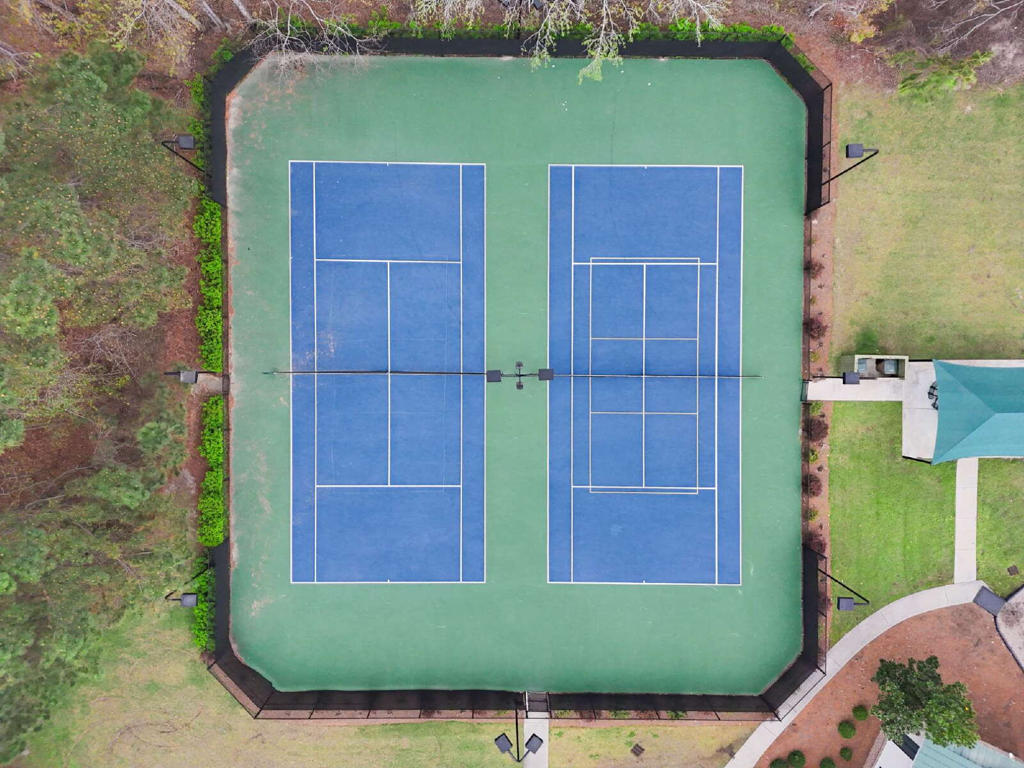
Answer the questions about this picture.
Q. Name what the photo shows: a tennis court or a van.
tennis court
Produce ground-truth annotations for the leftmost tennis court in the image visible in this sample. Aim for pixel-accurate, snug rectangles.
[228,57,520,692]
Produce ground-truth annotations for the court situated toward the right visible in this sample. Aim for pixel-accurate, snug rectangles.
[520,59,806,694]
